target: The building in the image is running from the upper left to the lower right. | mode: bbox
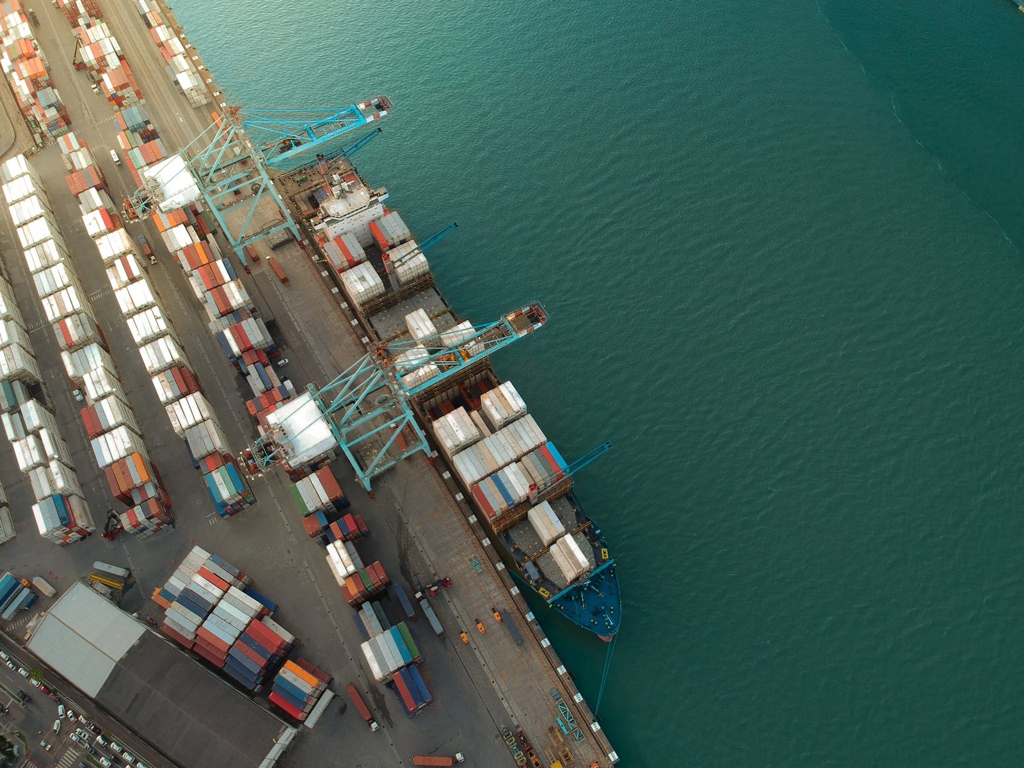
[24,580,306,768]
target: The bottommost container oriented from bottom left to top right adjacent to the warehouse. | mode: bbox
[304,687,336,726]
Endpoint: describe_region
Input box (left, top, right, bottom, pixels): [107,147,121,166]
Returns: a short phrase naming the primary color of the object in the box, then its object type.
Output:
white vehicle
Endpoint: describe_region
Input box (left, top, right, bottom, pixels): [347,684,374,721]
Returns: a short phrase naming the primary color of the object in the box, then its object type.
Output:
red shipping container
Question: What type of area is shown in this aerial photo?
port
